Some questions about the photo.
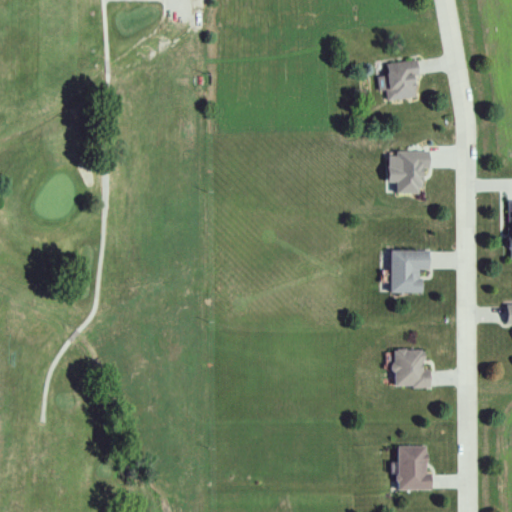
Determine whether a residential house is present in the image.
Yes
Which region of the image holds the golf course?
left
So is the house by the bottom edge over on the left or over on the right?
right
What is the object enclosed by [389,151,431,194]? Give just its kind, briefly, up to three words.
house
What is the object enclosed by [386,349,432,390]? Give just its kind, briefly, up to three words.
house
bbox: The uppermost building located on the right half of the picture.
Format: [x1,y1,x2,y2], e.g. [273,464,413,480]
[378,62,420,100]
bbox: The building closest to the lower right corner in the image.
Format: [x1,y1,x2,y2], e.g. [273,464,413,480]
[391,446,432,490]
